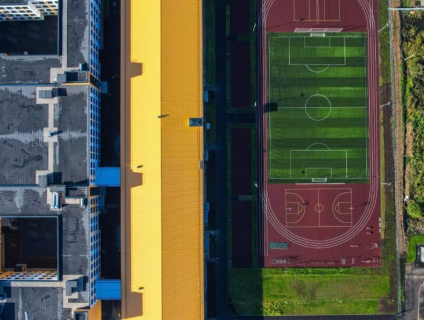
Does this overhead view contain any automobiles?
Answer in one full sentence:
No, the photo shows no automobile.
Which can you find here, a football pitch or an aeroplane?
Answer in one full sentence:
This aerial view contains a football pitch.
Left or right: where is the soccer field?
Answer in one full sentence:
The soccer field sits on the right side.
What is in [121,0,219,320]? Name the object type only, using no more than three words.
building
